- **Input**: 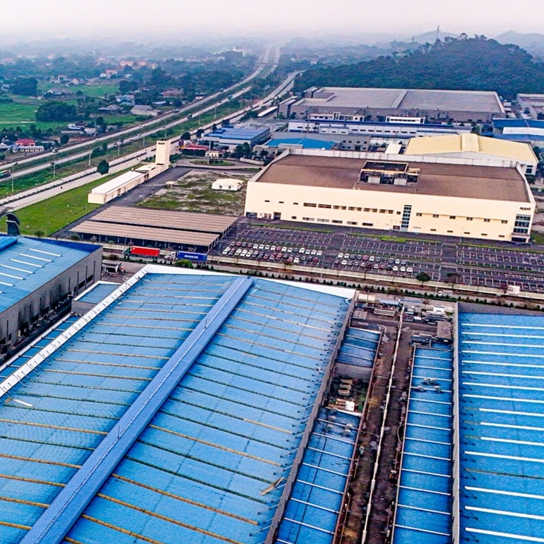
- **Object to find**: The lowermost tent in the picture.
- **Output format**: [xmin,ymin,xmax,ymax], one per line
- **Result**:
[211,176,246,191]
